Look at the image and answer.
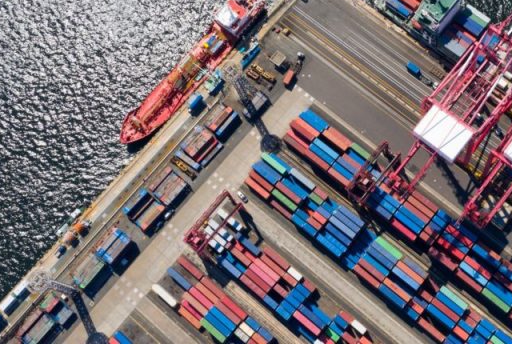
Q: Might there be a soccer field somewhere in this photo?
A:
No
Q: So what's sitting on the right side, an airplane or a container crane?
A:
container crane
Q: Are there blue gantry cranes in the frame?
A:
No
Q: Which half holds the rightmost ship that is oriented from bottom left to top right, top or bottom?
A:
top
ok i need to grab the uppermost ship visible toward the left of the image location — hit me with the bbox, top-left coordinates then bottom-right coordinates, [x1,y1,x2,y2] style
[119,0,270,142]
